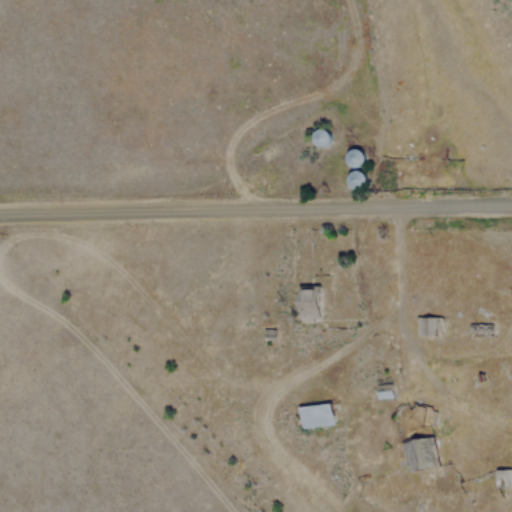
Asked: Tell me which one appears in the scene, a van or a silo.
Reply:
silo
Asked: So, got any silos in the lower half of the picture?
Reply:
No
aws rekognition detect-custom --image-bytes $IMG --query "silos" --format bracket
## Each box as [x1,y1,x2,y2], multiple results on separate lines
[346,148,366,168]
[347,170,368,190]
[312,128,334,149]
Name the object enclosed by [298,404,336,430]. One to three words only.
house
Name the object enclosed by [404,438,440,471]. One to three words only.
barn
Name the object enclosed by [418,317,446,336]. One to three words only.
barn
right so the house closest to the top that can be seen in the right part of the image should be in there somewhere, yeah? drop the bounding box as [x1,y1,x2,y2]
[296,288,324,324]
